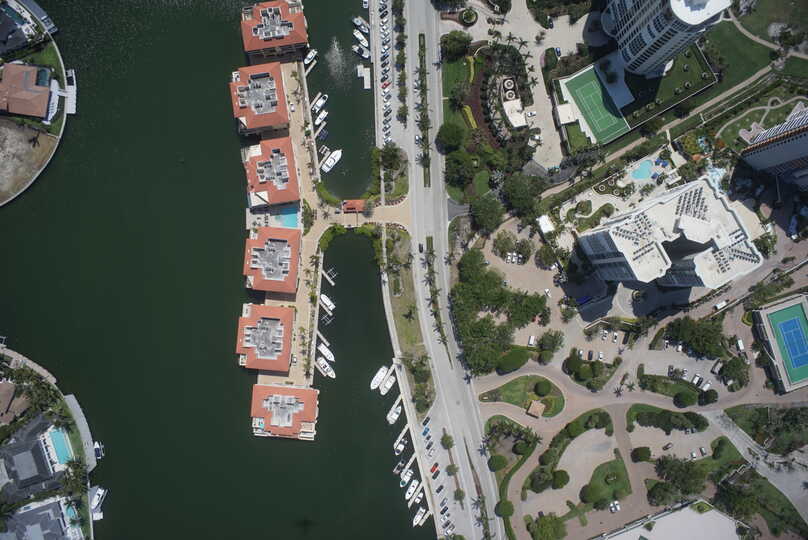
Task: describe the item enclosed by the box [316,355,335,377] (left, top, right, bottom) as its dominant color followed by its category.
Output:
white boat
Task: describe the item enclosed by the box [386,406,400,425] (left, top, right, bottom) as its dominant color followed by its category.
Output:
white boat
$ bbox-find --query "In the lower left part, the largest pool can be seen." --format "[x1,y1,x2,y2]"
[48,429,72,466]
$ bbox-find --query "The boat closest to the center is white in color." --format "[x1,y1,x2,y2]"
[322,295,336,311]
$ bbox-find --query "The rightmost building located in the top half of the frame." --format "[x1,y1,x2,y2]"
[741,98,808,179]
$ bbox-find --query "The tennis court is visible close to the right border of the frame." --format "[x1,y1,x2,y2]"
[768,304,808,383]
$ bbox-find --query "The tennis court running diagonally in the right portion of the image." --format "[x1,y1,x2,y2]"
[566,67,630,143]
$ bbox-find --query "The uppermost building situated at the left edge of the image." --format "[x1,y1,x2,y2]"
[0,3,32,58]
